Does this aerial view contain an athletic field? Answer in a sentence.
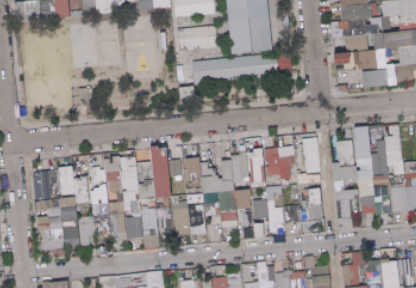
Yes, the photo shows an athletic field.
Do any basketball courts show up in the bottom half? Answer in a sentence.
No, there is no basketball court in the bottom half.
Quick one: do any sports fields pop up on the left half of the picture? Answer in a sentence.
Yes, the scene does show a sports field on the left half of the picture.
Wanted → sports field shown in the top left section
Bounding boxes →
[24,25,74,120]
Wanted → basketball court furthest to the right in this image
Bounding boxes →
[126,14,160,78]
